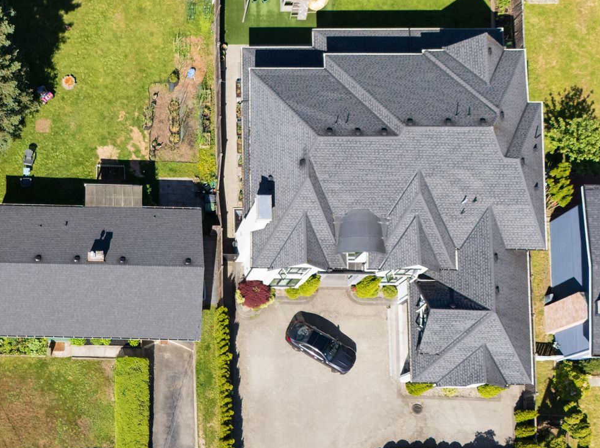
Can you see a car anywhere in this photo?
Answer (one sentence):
Yes, I can see a car in this picture.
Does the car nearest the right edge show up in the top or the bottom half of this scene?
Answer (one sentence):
You can find the car nearest the right edge in the bottom half.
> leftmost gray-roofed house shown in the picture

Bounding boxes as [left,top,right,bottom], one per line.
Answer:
[0,202,205,344]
